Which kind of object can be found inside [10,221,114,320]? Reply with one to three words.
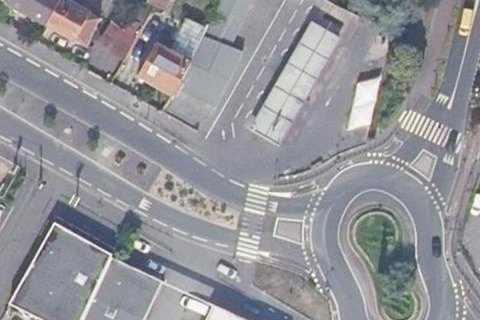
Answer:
building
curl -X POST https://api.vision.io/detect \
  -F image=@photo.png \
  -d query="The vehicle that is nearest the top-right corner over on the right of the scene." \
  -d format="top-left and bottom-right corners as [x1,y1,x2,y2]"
[458,4,476,36]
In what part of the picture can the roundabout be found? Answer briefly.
bottom right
